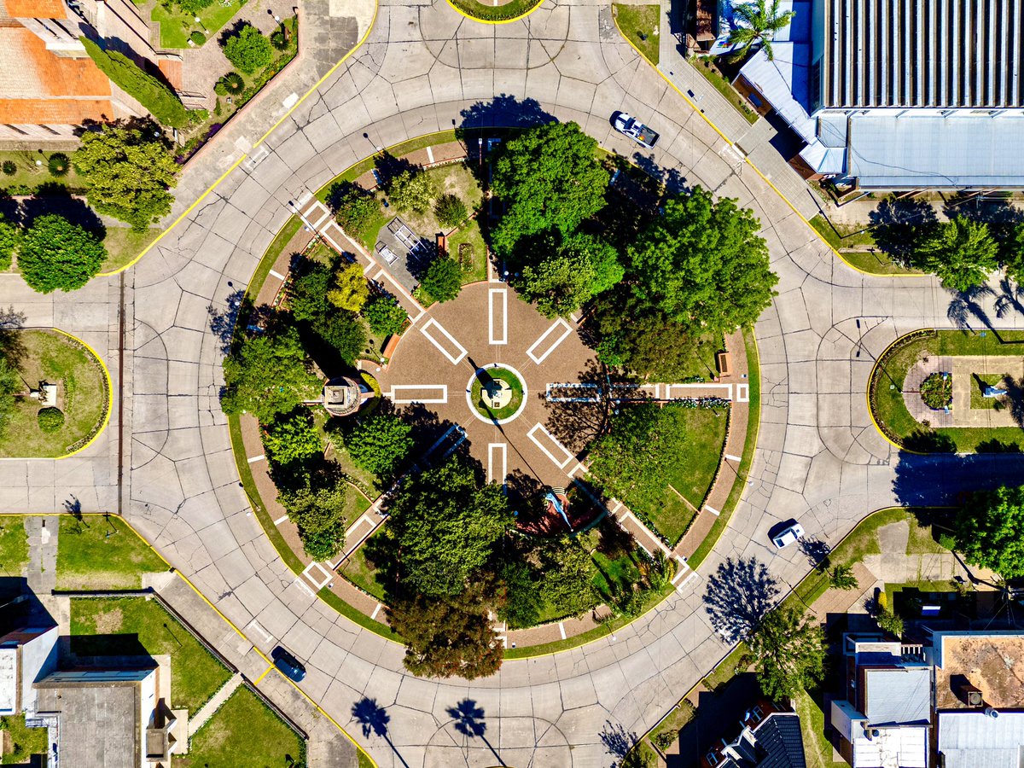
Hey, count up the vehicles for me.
3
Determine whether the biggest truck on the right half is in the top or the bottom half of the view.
top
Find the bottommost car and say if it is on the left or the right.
left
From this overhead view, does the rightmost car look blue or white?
white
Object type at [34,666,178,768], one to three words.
building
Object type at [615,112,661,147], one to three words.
truck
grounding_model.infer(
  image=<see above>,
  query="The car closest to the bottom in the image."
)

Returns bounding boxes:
[272,652,308,684]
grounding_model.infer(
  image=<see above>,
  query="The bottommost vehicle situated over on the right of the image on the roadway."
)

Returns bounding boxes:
[774,526,809,551]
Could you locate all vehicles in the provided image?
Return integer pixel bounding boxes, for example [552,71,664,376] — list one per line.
[615,112,661,147]
[272,652,308,684]
[774,526,809,551]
